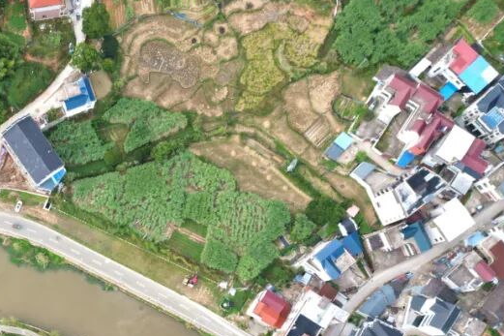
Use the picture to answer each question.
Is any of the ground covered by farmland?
Yes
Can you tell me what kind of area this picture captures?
residential area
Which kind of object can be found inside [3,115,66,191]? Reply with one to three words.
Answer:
house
